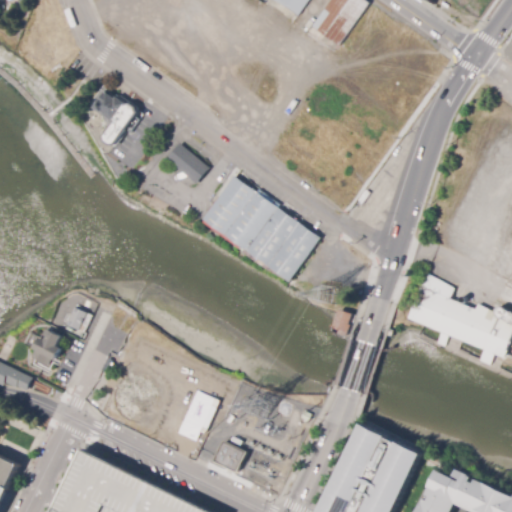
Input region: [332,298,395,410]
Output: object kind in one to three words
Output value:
bridge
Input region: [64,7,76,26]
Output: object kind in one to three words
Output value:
vehicle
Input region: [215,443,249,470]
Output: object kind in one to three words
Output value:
building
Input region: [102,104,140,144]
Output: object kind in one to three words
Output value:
house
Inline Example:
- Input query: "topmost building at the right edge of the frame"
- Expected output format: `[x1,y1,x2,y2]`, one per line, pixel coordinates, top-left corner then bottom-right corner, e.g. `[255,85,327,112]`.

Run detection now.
[408,275,512,365]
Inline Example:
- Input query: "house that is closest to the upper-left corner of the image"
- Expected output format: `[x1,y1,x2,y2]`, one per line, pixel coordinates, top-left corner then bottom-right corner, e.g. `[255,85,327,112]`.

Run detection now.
[93,91,128,119]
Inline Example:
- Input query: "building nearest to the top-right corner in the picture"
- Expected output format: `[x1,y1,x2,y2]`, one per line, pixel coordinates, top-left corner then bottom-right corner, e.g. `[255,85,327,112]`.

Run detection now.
[308,0,377,52]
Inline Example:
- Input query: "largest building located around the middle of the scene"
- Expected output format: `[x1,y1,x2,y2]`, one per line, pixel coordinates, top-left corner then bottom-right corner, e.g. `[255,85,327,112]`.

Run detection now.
[203,178,323,281]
